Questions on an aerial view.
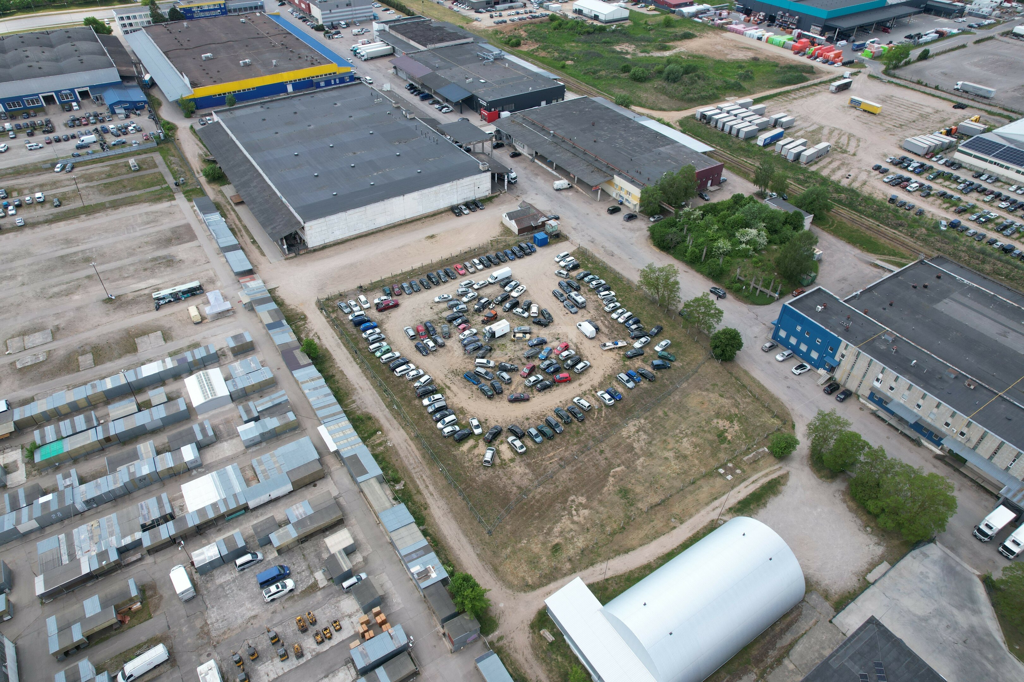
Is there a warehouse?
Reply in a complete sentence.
Yes, there is a warehouse in the image.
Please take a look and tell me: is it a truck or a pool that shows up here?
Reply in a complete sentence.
The image shows a truck.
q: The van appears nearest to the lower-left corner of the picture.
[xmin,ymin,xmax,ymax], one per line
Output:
[121,644,169,681]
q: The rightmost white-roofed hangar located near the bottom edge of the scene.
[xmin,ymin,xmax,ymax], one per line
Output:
[543,508,808,682]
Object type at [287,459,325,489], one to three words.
shed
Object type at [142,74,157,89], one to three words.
vehicle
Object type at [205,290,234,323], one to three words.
tent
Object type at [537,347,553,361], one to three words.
car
